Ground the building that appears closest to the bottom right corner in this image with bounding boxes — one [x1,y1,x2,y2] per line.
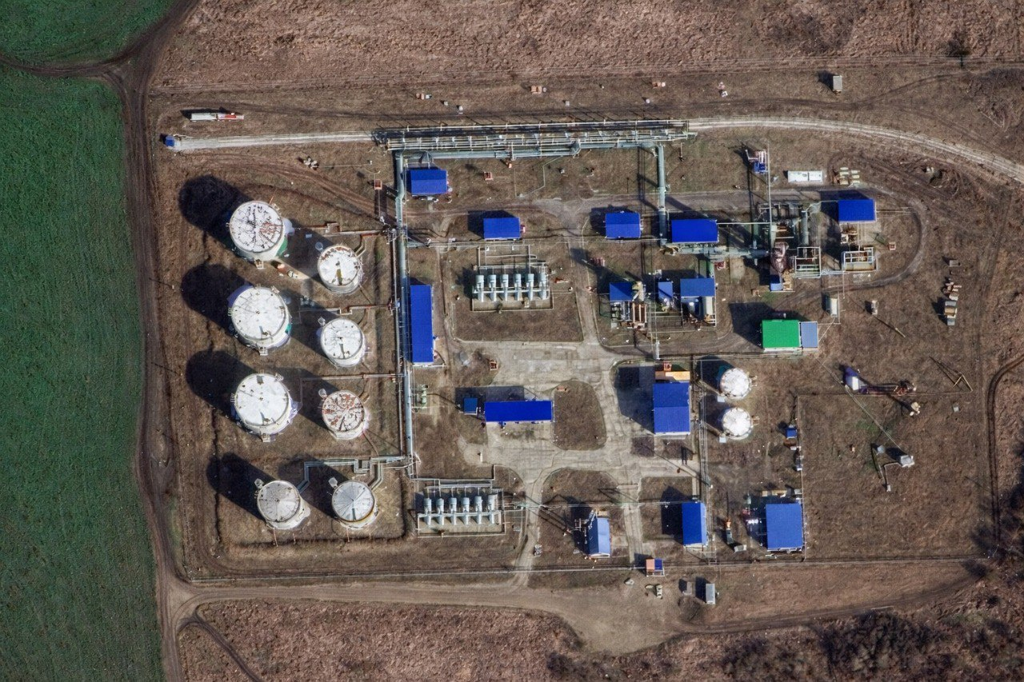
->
[764,502,804,553]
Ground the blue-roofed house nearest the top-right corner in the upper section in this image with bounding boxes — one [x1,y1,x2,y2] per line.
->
[838,199,877,225]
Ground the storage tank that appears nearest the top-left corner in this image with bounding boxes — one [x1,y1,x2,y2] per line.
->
[226,200,288,276]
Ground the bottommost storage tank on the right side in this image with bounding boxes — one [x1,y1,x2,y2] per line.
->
[721,406,758,441]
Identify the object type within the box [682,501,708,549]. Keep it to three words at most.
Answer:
building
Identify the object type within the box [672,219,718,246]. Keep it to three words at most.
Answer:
house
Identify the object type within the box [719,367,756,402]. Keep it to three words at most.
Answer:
storage tank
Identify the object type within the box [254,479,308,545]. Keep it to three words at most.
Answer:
storage tank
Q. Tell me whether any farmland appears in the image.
Yes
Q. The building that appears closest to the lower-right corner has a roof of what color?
blue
